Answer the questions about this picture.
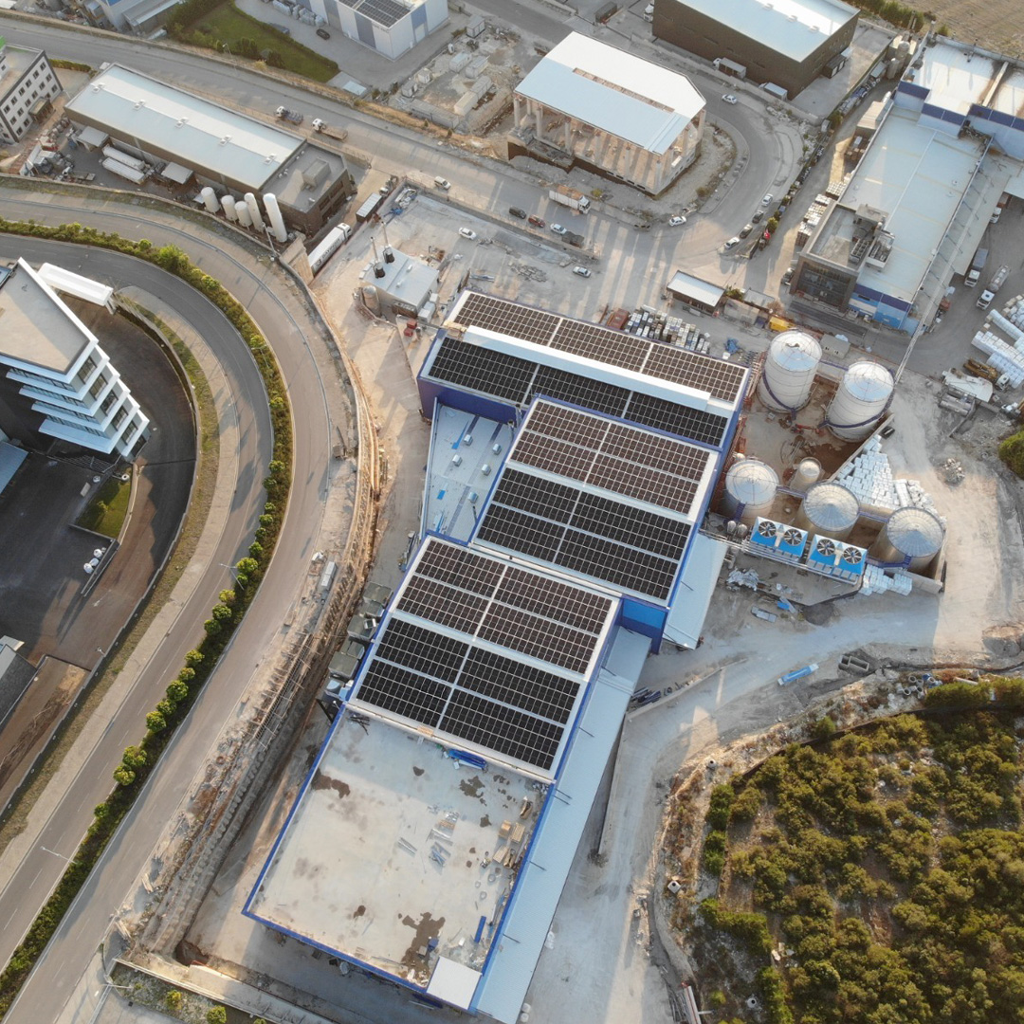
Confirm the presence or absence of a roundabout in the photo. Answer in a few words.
No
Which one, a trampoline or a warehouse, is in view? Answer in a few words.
warehouse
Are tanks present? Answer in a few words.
Yes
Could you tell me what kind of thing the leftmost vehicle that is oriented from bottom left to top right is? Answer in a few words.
truck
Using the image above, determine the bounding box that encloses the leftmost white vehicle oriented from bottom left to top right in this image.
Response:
[297,219,357,281]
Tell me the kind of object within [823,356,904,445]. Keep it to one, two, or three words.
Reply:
storage tank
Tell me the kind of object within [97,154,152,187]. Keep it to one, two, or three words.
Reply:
trailer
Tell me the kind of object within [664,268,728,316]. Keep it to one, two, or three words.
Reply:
shed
